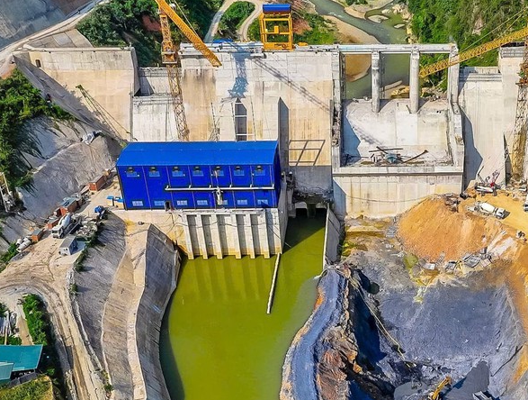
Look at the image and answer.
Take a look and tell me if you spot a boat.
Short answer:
No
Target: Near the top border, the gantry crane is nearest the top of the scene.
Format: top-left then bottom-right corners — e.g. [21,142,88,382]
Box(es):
[260,0,296,45]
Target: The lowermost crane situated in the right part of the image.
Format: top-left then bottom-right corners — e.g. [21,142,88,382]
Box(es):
[472,101,528,194]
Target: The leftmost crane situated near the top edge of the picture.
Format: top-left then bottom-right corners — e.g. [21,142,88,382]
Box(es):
[158,0,222,141]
